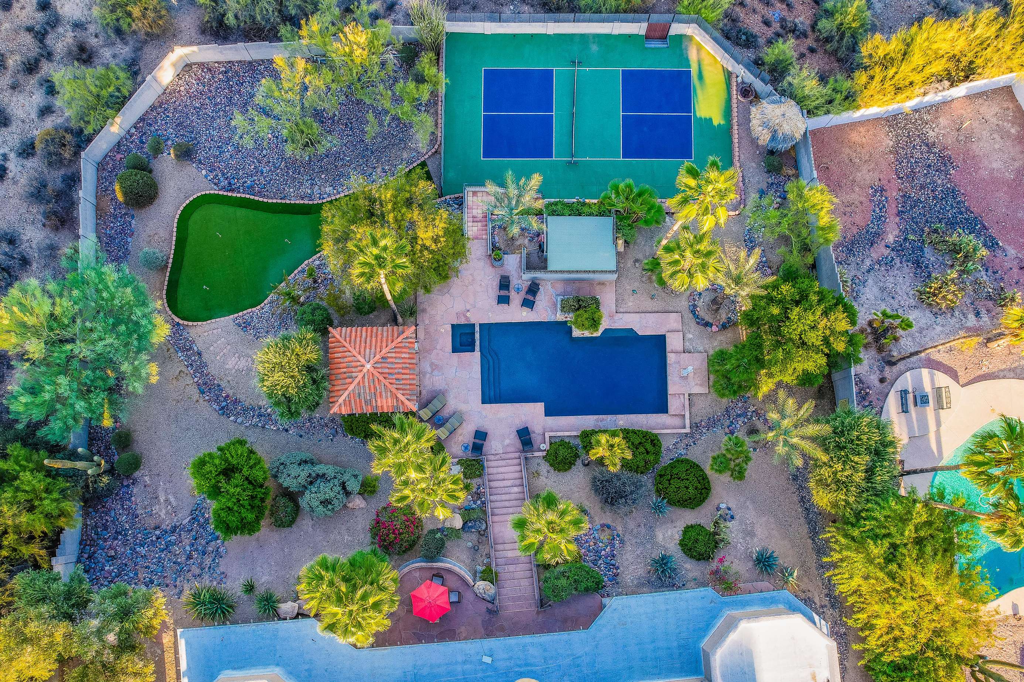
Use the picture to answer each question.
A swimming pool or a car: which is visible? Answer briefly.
swimming pool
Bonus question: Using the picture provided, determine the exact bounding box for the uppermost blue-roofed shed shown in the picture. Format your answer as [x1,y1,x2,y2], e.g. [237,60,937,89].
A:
[522,212,621,280]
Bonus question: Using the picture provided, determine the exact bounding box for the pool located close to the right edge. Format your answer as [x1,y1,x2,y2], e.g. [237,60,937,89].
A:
[927,410,1024,604]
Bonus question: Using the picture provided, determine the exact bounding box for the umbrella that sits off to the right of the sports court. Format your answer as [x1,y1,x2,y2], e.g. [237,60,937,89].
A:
[752,89,811,147]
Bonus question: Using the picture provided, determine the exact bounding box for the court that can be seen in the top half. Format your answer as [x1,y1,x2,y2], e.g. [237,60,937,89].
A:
[442,34,733,201]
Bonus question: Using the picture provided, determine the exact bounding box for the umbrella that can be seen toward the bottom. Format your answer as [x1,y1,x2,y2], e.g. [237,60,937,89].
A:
[411,581,450,622]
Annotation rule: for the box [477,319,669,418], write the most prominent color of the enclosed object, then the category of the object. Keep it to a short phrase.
blue swimming pool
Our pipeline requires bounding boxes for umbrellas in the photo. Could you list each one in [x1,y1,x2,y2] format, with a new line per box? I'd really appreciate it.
[752,89,811,147]
[411,581,450,622]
